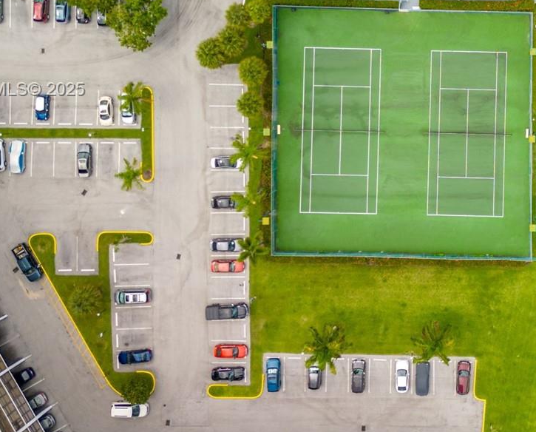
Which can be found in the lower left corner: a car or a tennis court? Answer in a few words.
car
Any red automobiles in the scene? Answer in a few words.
Yes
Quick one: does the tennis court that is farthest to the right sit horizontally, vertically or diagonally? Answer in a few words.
vertically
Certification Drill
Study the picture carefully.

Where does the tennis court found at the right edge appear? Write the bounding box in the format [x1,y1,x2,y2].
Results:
[426,50,513,217]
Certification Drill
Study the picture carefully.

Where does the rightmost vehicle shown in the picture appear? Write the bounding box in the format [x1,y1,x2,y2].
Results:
[455,359,471,394]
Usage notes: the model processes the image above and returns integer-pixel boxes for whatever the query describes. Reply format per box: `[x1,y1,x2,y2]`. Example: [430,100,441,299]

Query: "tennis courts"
[426,50,513,217]
[295,46,386,215]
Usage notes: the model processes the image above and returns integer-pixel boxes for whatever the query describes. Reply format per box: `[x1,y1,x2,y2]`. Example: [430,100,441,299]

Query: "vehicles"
[117,289,151,305]
[215,343,247,359]
[120,94,137,126]
[13,243,43,281]
[119,348,154,365]
[211,237,246,253]
[207,304,248,320]
[27,390,53,410]
[213,195,243,210]
[13,365,38,386]
[307,362,321,390]
[266,357,281,390]
[99,96,114,125]
[210,259,246,275]
[76,0,92,25]
[54,0,72,25]
[210,155,245,170]
[455,359,471,394]
[96,1,111,28]
[351,358,365,392]
[111,401,148,419]
[213,366,245,382]
[34,0,51,22]
[34,92,51,120]
[76,142,94,176]
[394,358,409,392]
[0,139,6,172]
